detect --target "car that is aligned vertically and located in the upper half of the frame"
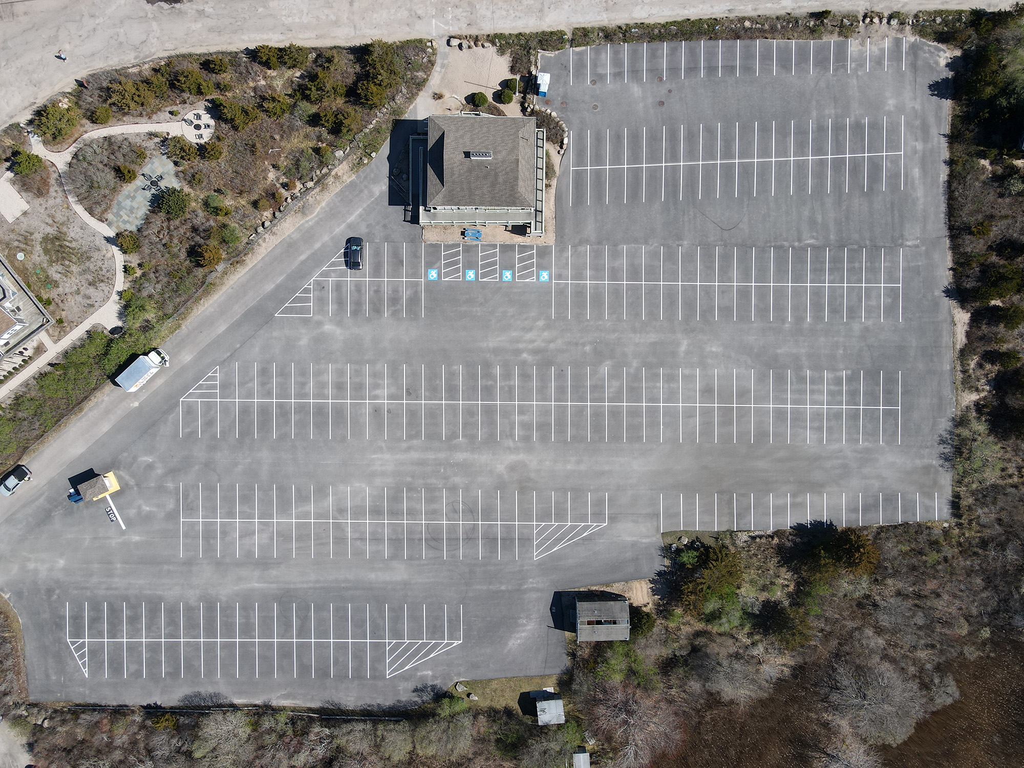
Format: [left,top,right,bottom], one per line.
[348,238,364,270]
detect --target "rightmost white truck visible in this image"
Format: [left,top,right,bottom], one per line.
[115,348,172,392]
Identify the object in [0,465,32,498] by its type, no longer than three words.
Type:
truck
